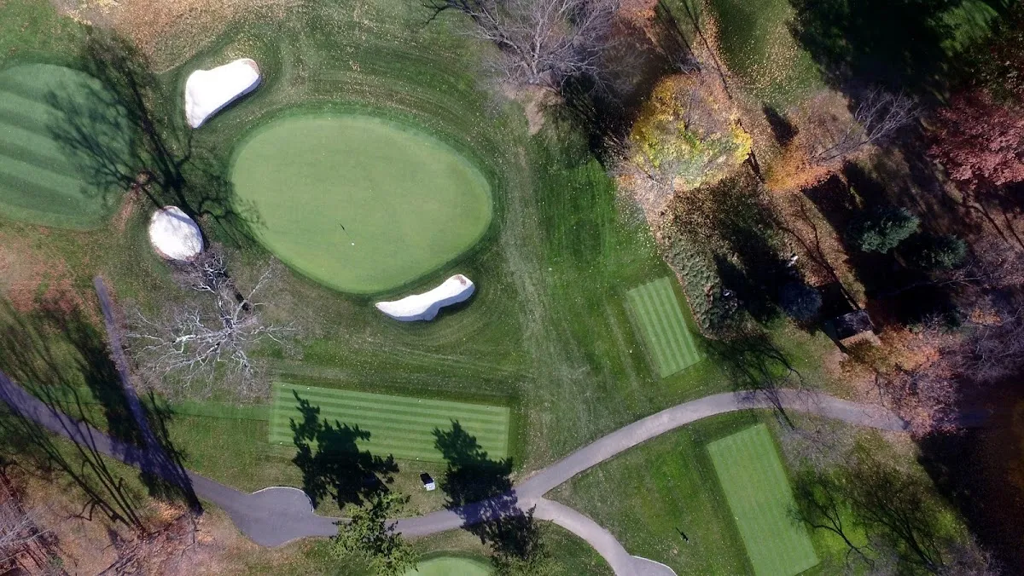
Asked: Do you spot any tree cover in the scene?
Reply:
Yes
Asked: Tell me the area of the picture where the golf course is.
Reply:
left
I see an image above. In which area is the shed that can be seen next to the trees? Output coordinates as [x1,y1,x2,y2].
[828,310,880,354]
